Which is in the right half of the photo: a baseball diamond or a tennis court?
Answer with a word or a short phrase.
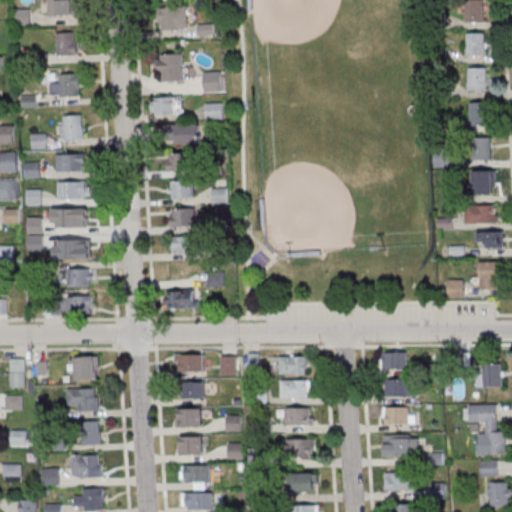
baseball diamond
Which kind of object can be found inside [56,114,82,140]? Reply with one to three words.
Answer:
house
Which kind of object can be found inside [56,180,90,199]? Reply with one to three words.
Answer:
house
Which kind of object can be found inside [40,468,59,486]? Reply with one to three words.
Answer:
building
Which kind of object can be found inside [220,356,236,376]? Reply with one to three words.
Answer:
building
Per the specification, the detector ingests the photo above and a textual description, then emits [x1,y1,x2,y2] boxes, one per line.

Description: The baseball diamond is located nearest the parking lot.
[246,44,431,258]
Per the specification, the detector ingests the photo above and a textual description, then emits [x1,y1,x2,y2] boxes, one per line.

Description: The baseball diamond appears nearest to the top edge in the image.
[246,0,405,105]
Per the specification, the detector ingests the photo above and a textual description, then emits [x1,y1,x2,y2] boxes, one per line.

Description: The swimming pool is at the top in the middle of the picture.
[194,53,214,68]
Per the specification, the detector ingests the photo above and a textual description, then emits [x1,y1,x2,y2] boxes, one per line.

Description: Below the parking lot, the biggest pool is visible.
[452,376,466,401]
